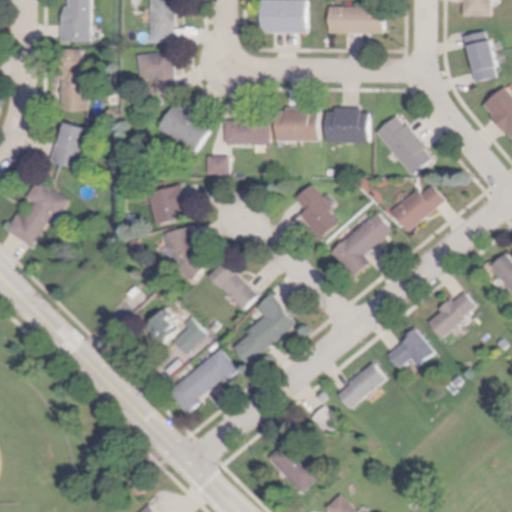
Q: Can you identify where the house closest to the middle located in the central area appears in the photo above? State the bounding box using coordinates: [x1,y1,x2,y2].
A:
[210,264,256,310]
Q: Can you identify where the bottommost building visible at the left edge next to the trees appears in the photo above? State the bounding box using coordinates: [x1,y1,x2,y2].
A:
[10,184,70,250]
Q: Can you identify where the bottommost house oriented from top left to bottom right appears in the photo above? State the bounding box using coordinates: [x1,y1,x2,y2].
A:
[270,449,316,493]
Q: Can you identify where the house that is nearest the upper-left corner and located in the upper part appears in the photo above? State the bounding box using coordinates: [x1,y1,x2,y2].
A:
[62,0,93,43]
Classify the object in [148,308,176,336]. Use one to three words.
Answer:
house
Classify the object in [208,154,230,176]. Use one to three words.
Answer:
building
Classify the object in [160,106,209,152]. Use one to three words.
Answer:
house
